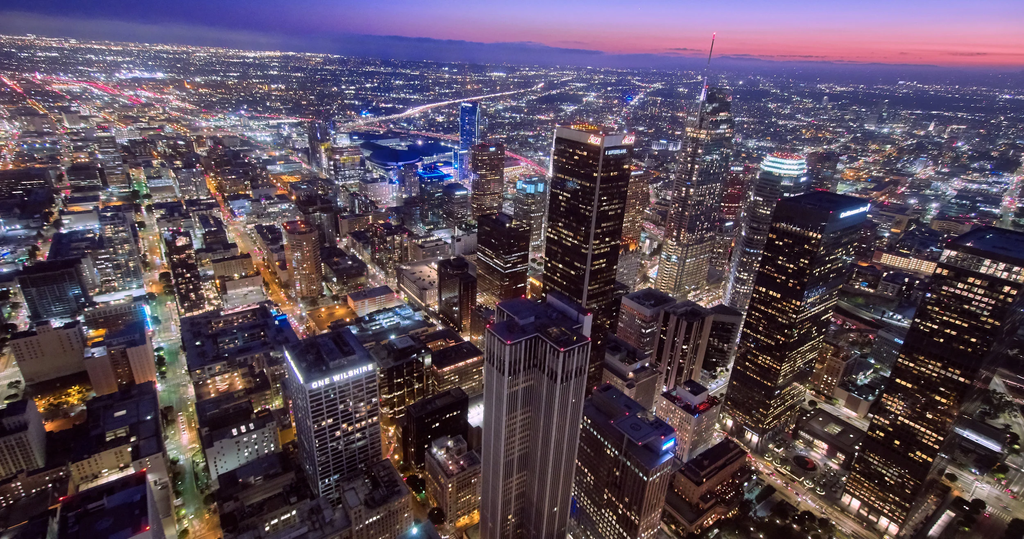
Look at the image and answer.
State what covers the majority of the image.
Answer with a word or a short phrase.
buildings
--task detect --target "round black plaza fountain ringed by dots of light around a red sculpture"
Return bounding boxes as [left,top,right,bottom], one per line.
[791,454,819,475]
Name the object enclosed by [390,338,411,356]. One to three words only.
helipad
